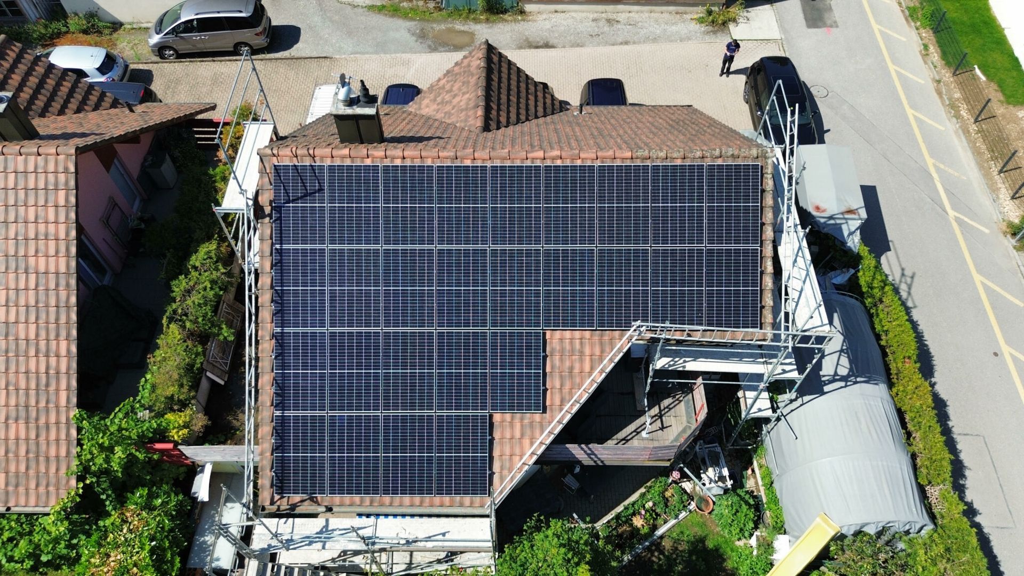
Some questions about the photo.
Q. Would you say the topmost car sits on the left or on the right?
left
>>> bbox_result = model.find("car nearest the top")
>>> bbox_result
[142,0,274,60]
